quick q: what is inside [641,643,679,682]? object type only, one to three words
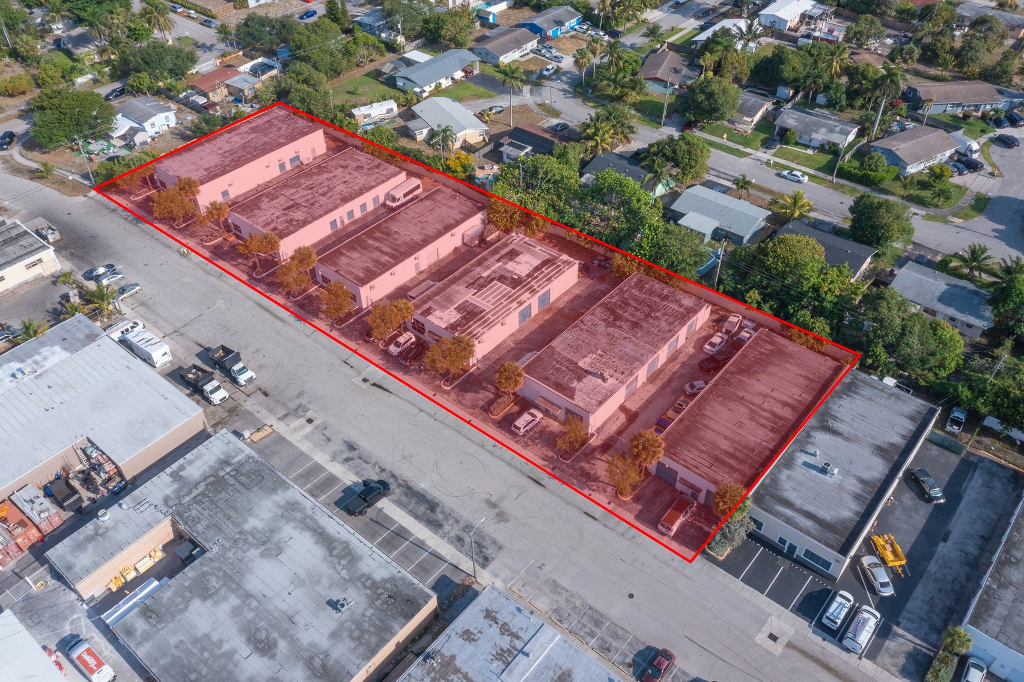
car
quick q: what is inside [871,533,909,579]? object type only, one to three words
trailer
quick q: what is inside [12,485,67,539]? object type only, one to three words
shipping container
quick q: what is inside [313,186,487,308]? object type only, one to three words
warehouse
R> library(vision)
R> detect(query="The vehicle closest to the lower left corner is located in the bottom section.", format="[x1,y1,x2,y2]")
[65,632,114,682]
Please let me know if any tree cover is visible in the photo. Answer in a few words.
Yes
